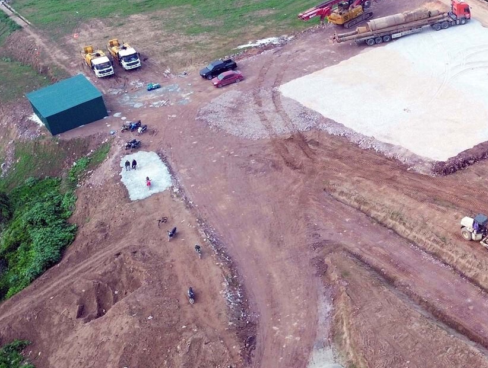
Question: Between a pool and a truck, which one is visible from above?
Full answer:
I can see a truck in this picture.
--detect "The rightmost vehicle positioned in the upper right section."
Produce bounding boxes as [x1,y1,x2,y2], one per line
[354,1,476,45]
